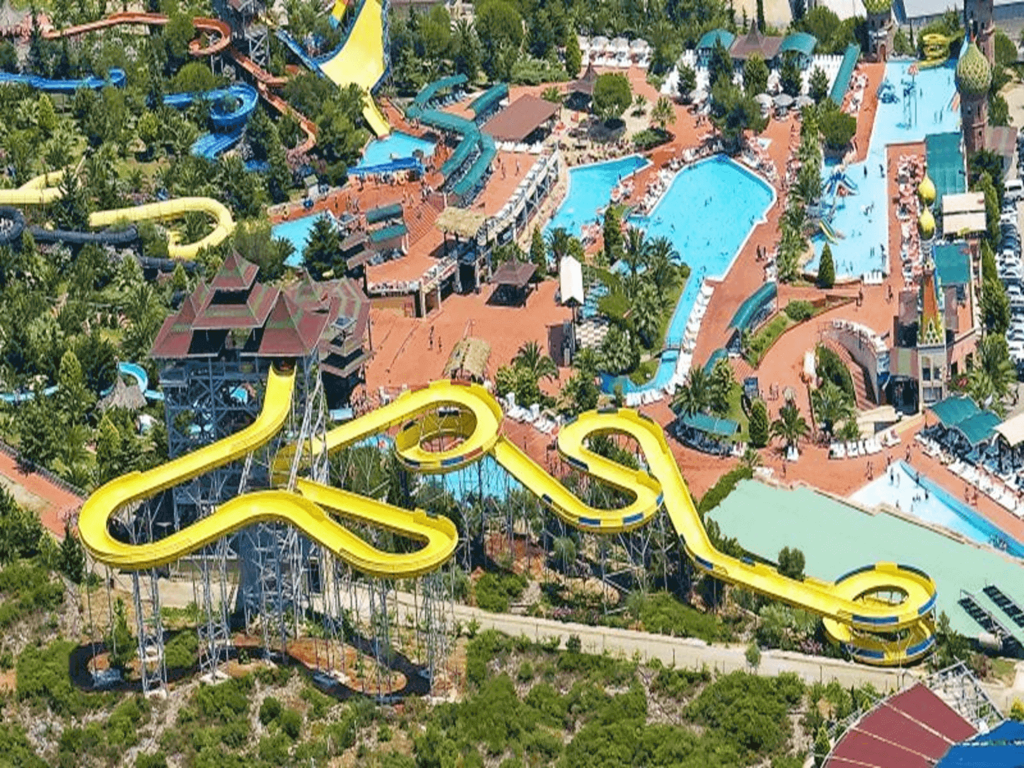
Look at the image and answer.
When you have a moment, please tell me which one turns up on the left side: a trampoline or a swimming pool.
swimming pool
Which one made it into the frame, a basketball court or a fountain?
fountain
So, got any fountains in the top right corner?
Yes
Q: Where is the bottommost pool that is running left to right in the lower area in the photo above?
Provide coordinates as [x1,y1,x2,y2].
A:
[435,457,530,504]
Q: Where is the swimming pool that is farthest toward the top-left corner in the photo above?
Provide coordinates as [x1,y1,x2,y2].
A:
[273,211,337,264]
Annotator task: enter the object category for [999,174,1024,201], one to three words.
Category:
vehicle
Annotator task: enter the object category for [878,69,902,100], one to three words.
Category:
fountain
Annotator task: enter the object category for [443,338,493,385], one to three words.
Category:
shed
